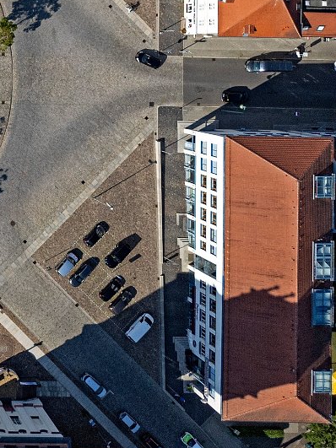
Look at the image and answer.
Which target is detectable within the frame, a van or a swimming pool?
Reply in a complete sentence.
I can see a van in this picture.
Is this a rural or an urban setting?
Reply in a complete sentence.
The land in this view is best described as urban.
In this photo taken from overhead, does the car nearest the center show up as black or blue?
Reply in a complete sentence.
In this view, the car nearest the center is black.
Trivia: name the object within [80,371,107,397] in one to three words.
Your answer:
car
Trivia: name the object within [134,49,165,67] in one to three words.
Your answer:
car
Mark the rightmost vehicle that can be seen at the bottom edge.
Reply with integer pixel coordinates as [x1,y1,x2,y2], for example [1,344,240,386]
[179,428,203,448]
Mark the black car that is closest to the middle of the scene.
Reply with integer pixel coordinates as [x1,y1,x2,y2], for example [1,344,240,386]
[103,239,134,268]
